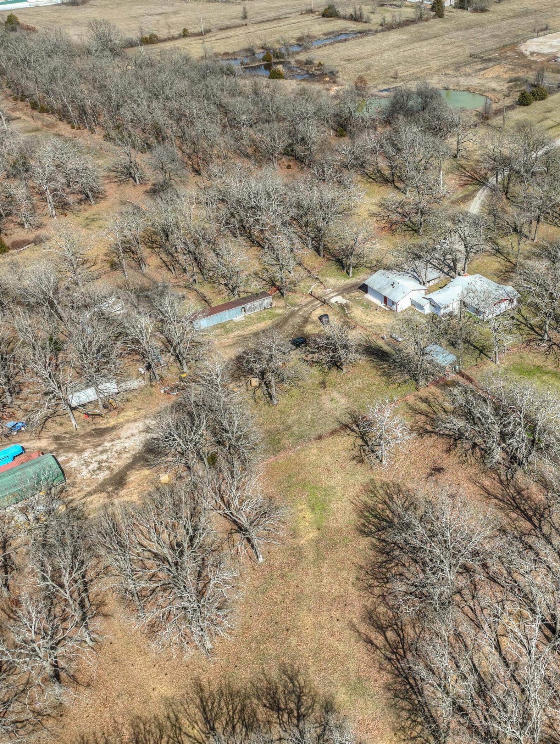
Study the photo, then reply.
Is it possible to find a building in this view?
Yes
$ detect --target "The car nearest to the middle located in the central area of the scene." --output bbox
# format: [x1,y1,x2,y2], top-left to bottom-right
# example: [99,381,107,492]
[285,333,312,346]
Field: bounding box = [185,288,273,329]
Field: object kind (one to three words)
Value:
shed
